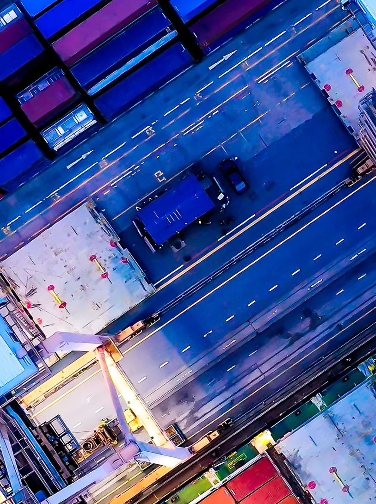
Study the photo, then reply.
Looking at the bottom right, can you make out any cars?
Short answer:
No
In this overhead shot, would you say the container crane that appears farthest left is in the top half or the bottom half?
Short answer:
bottom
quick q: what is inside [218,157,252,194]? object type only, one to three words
car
